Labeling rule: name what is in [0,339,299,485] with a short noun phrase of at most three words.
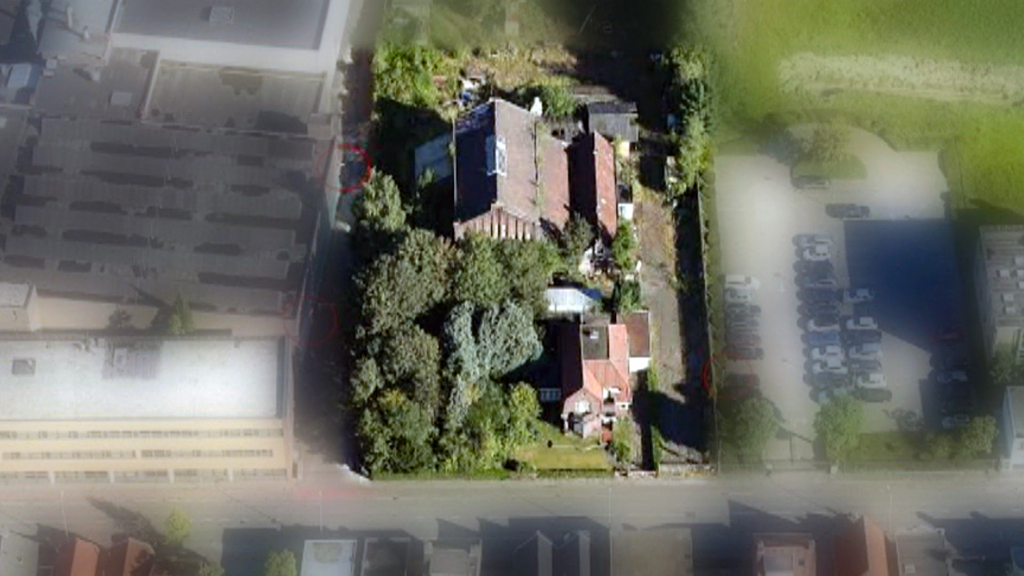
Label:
building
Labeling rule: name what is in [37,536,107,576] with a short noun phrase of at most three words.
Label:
house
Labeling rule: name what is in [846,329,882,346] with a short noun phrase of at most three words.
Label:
car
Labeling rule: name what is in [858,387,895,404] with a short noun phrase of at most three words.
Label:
car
